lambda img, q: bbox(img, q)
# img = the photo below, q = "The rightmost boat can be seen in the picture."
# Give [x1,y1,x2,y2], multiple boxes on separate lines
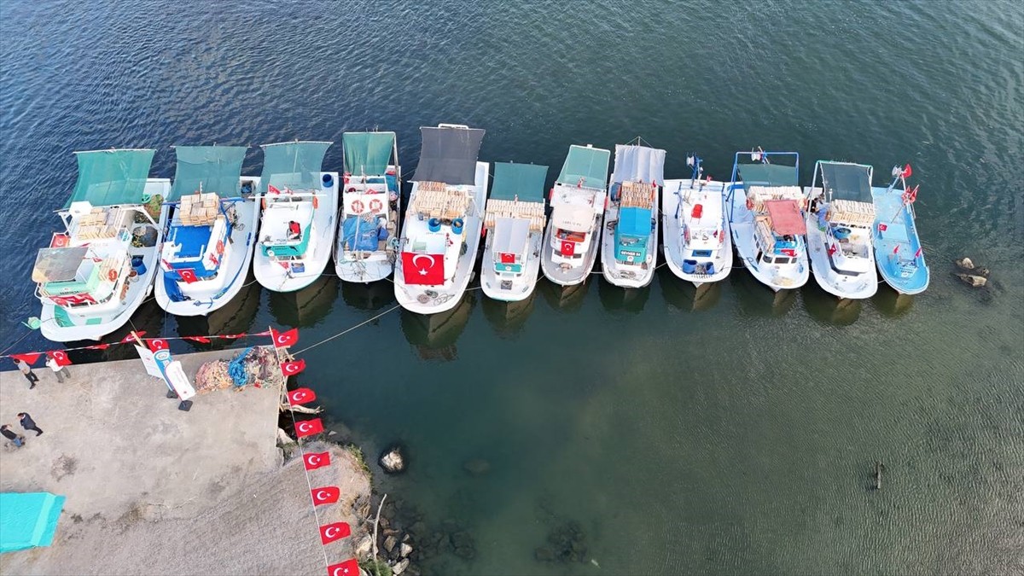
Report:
[857,151,925,296]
